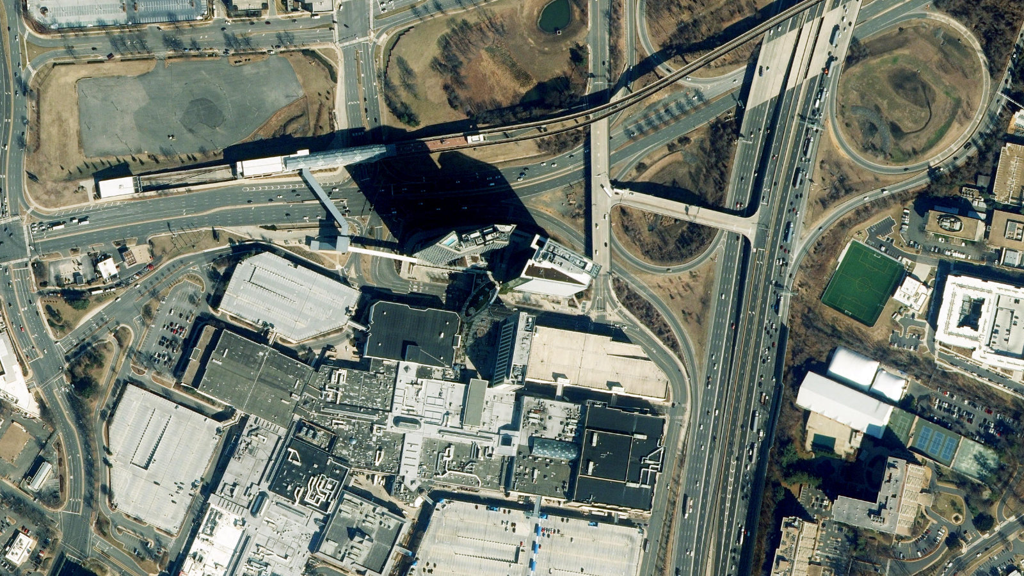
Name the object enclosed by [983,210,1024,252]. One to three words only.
building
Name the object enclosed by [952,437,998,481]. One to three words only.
tennis court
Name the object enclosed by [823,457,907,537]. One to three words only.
building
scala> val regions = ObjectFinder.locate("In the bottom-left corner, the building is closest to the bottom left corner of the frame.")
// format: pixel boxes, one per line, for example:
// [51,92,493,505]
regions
[5,532,33,565]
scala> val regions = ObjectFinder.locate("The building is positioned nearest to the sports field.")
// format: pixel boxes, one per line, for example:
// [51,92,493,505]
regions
[891,276,933,312]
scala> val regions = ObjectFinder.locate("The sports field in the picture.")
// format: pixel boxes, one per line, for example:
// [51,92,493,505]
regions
[822,240,904,327]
